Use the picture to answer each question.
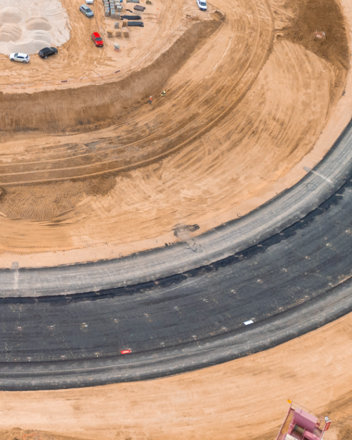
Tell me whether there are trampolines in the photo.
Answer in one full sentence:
No, I find no trampoline anywhere in the image.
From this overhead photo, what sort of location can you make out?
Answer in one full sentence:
This looks like a sports ground.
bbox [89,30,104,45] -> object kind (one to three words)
car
